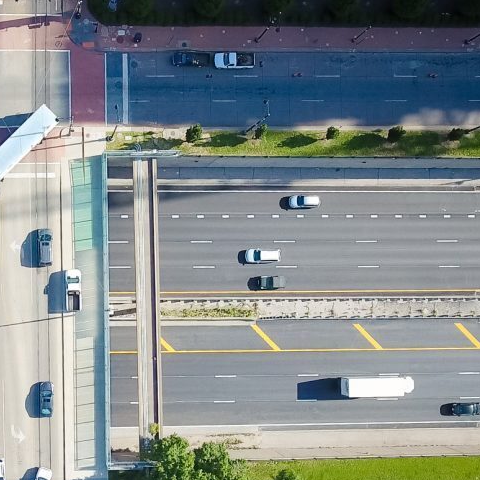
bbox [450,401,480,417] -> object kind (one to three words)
car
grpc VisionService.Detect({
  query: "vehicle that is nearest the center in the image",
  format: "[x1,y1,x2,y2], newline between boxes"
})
[244,247,282,264]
